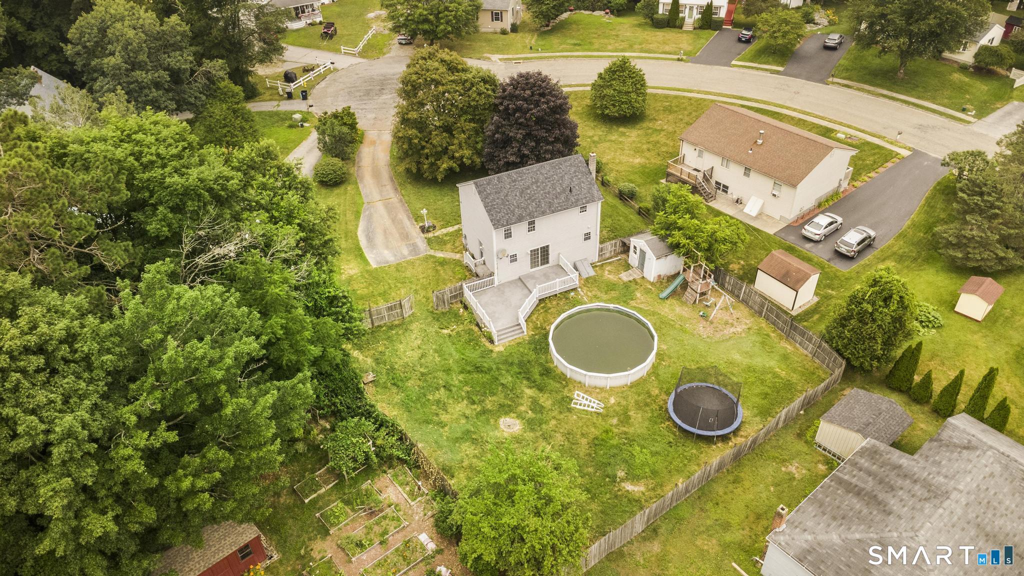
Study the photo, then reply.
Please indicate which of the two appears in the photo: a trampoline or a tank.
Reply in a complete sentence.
Looking from above, you can make out a trampoline.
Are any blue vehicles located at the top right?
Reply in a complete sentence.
No, there's no blue vehicle to be seen at the top right.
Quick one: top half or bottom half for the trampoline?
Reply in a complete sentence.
The trampoline is in the bottom half of the image.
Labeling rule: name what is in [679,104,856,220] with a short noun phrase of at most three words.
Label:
house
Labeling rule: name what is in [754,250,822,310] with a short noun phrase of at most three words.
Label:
shed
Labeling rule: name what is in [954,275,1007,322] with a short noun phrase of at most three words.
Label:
shed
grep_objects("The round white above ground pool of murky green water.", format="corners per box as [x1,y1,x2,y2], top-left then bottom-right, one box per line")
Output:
[549,302,661,390]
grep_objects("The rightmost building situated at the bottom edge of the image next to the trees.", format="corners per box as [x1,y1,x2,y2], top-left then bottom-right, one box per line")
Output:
[759,403,1024,576]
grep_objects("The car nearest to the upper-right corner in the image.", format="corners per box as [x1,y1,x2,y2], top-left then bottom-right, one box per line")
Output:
[824,31,846,50]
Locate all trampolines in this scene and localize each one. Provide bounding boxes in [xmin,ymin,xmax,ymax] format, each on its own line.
[670,365,746,448]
